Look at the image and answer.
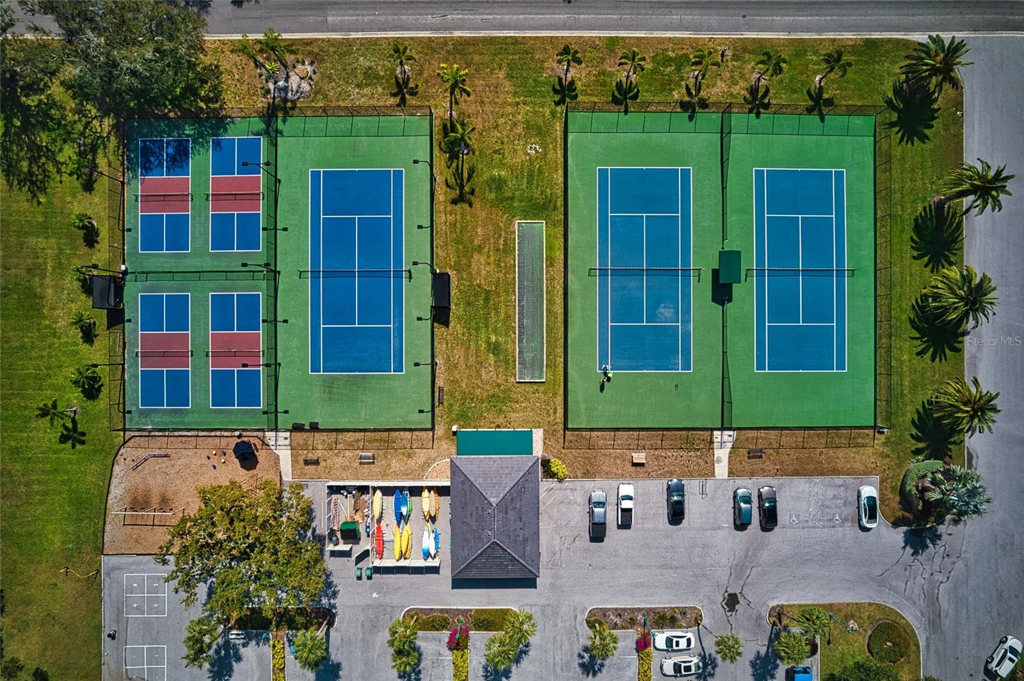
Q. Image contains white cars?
Yes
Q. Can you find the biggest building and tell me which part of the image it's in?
bottom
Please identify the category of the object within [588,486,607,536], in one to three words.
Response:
vehicle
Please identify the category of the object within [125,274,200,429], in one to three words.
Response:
sports court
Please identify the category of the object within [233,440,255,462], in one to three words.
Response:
umbrella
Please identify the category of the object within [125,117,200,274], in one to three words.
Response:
sports court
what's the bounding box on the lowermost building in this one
[450,455,540,578]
